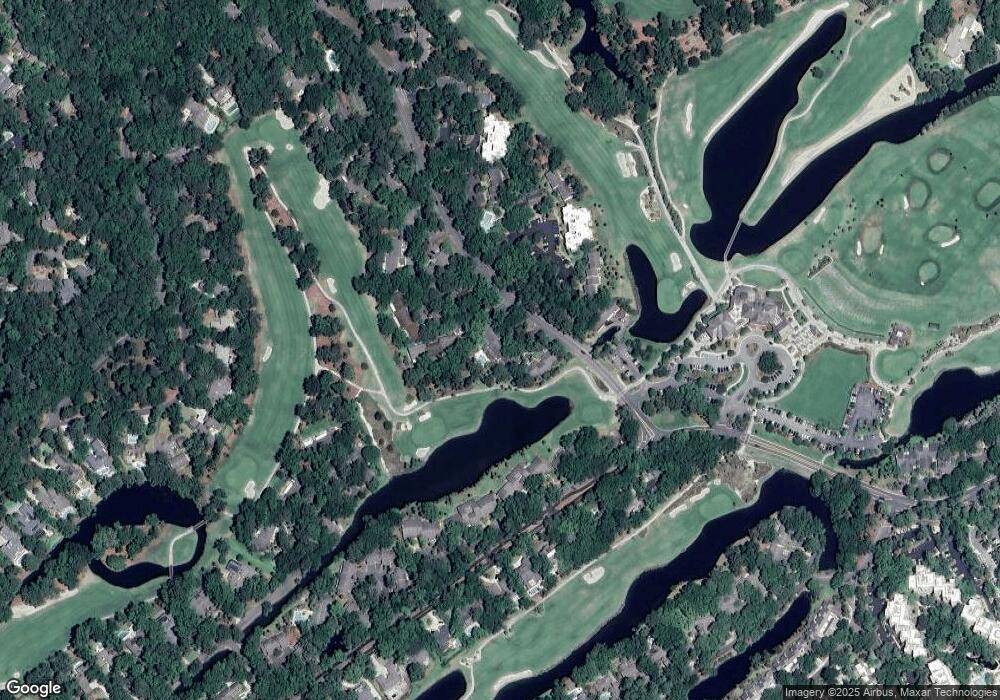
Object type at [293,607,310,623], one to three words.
swimming pool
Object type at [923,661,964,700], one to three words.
building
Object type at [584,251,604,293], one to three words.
house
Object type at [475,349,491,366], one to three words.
swimming pool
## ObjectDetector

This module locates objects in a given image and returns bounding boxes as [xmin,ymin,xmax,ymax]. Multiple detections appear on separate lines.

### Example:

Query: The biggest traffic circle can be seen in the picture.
[741,340,797,392]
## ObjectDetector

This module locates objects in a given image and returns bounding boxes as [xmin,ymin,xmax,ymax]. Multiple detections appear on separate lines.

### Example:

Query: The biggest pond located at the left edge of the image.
[20,482,206,589]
